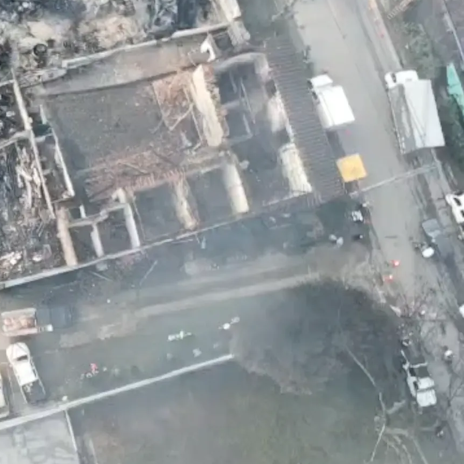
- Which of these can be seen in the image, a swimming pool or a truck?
truck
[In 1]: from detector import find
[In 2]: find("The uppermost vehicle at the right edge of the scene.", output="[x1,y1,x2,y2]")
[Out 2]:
[390,68,451,154]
